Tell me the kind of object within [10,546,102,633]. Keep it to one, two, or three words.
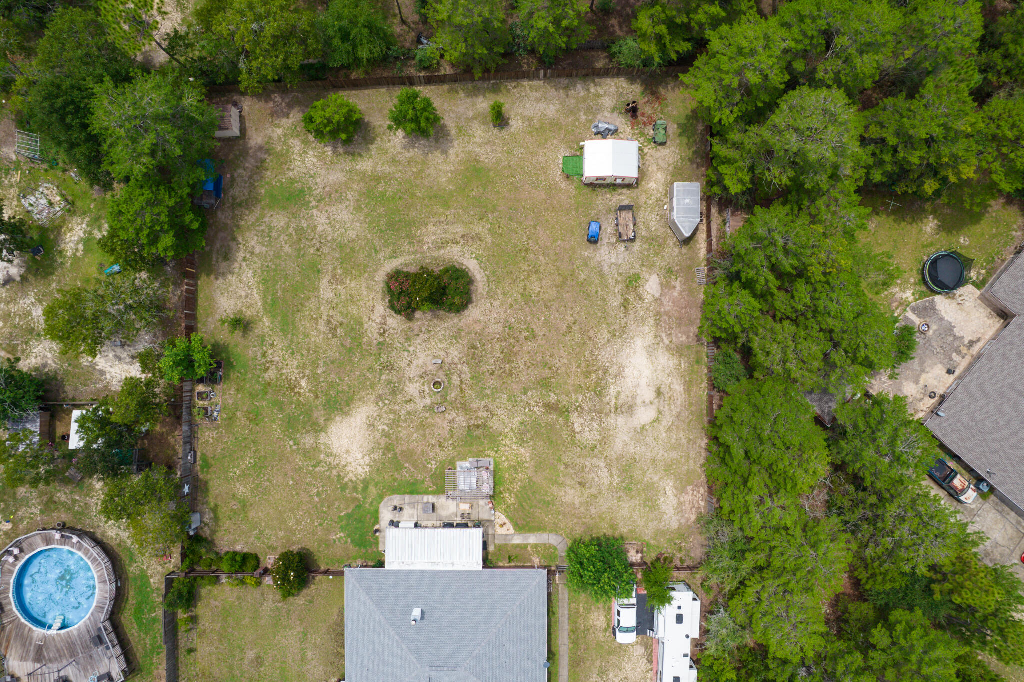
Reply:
swimming pool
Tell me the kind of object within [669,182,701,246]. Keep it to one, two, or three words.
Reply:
trailer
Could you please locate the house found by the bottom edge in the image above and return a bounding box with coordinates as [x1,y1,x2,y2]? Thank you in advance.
[344,563,550,682]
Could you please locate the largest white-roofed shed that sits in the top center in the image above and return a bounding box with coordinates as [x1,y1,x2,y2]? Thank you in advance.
[577,138,643,184]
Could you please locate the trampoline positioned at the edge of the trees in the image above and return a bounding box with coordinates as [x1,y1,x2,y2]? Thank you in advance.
[920,248,977,295]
